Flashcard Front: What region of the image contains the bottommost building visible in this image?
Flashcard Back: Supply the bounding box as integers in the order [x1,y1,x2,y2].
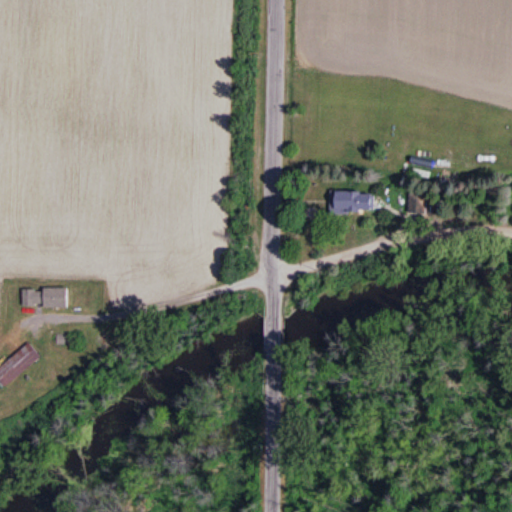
[0,342,40,386]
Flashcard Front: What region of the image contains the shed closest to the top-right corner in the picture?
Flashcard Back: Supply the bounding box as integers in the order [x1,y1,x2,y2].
[408,191,424,214]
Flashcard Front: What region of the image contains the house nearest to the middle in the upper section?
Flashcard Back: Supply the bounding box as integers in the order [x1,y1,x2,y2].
[331,190,375,214]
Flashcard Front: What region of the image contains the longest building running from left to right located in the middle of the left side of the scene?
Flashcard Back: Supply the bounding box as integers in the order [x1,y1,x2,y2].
[22,287,69,309]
